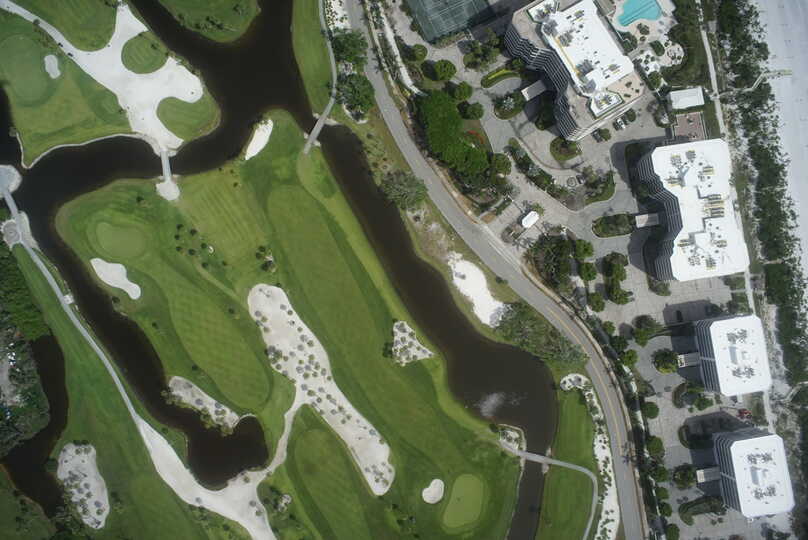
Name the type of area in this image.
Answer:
golf course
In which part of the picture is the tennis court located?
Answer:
top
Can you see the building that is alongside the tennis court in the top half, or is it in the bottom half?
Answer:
top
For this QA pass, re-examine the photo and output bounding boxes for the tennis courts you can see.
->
[413,0,489,41]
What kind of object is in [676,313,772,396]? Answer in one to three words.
building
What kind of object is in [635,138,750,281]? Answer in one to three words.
building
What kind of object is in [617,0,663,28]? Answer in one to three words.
swimming pool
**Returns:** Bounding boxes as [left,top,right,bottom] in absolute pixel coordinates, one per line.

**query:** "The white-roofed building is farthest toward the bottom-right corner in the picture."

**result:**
[695,427,795,519]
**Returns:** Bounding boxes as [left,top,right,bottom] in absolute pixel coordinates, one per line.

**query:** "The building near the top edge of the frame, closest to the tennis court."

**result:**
[506,0,645,139]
